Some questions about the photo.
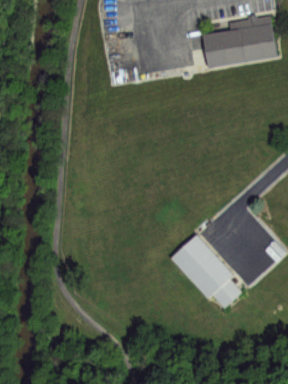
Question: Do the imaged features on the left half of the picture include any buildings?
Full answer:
No, no building appears on the left half of the picture.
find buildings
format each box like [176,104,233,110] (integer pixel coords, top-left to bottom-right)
[203,12,278,68]
[172,234,243,306]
